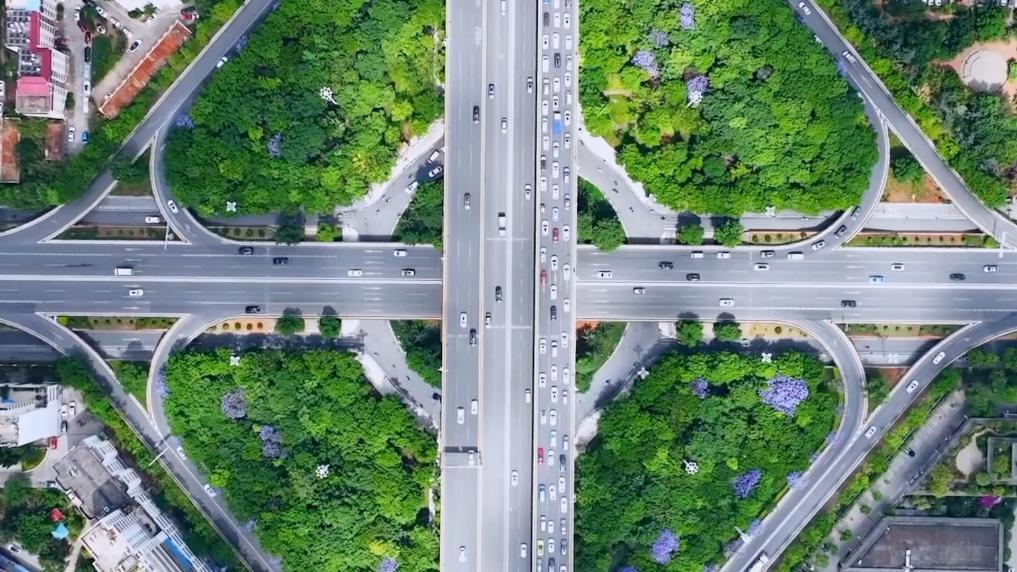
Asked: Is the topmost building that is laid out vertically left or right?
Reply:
left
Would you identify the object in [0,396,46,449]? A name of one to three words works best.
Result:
building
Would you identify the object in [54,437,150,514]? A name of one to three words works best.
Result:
building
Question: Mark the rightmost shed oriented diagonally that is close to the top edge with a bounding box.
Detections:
[97,20,193,118]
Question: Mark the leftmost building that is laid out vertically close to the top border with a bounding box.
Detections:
[4,0,67,118]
